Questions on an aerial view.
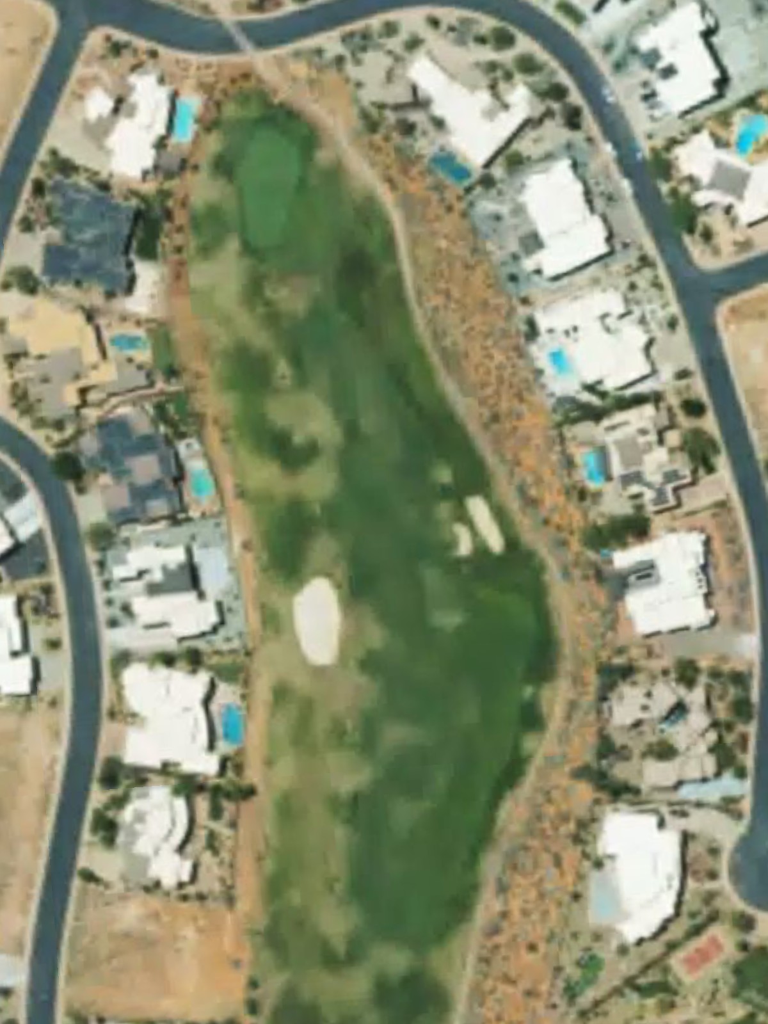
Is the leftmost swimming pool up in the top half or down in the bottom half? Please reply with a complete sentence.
You can find the leftmost swimming pool in the top half.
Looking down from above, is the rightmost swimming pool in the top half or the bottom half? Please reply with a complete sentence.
The rightmost swimming pool sits in the top half of the picture.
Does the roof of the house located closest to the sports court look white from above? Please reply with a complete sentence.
Yes, the roof of the house located closest to the sports court appears white.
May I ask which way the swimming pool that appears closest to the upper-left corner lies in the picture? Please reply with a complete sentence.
I'd say the swimming pool that appears closest to the upper-left corner is aligned from top to bottom in the picture.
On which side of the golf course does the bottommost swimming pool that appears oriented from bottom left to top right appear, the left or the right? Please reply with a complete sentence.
The bottommost swimming pool that appears oriented from bottom left to top right appears to the right of the golf course in this view.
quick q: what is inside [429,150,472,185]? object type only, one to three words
swimming pool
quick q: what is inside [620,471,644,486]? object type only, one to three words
solar panel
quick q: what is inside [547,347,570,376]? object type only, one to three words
swimming pool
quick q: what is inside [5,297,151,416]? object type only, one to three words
house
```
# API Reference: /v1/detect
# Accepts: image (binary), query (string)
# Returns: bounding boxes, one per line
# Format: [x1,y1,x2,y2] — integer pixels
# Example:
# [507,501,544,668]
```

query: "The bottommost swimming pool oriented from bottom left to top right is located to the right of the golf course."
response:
[665,701,688,727]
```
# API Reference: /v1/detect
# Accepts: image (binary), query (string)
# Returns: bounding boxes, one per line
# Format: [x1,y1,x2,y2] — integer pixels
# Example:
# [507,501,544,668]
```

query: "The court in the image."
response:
[672,927,731,979]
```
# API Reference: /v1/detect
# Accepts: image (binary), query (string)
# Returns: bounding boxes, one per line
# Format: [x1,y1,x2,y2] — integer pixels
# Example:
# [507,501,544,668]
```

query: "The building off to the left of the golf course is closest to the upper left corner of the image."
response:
[84,87,114,123]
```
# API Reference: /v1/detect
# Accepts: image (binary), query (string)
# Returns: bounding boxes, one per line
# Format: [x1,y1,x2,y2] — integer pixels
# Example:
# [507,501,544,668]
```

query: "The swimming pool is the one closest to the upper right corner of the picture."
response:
[736,112,768,158]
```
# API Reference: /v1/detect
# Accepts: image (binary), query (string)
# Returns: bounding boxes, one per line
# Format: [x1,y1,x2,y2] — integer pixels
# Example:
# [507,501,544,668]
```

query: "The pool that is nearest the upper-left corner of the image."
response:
[173,96,197,141]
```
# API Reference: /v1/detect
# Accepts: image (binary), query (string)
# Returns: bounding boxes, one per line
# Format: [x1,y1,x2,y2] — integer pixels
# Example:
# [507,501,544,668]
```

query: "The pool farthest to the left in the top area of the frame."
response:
[111,332,147,352]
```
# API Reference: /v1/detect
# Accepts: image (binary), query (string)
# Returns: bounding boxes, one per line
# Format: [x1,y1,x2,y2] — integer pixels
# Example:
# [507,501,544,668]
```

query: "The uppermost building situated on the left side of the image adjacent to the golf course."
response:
[104,74,170,179]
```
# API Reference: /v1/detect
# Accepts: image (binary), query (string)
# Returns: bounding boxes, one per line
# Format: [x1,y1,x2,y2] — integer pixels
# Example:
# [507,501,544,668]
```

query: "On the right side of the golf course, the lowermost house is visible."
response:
[598,813,684,945]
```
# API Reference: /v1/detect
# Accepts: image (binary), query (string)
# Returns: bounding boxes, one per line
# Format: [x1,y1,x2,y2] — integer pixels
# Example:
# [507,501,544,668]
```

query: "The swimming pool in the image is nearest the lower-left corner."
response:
[221,702,245,747]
